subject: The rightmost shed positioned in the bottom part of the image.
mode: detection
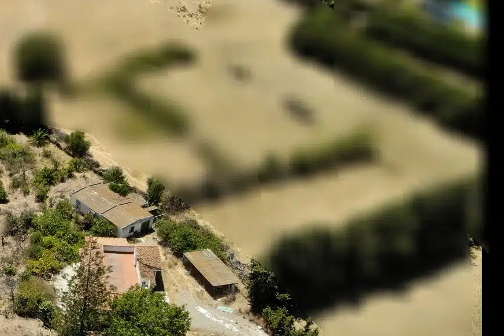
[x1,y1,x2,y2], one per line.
[181,247,241,302]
